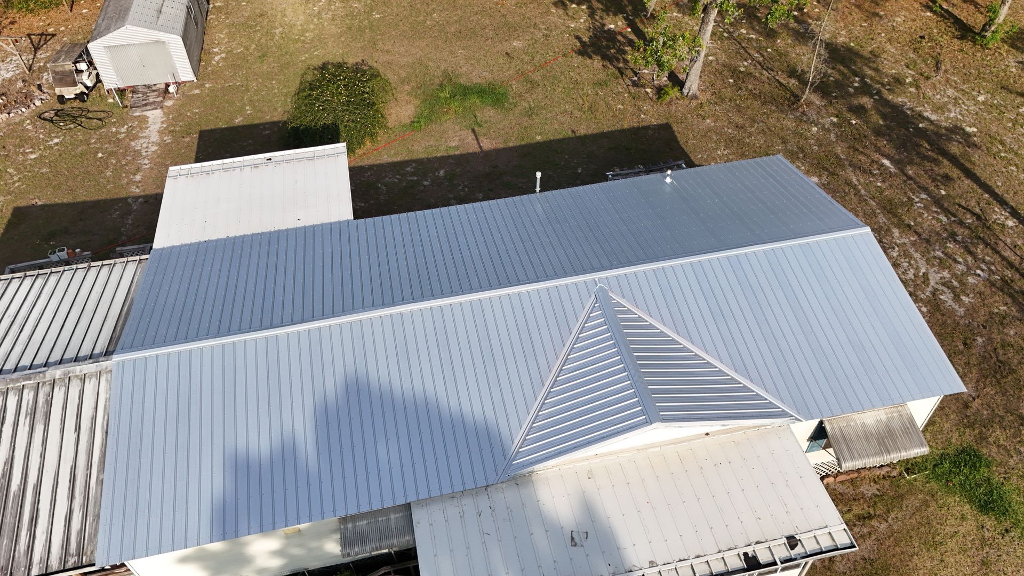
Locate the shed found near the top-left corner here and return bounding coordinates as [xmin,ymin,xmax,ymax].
[84,0,214,88]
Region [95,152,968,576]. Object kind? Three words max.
house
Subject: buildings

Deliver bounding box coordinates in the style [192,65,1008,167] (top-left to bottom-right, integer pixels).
[95,152,968,576]
[84,0,214,88]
